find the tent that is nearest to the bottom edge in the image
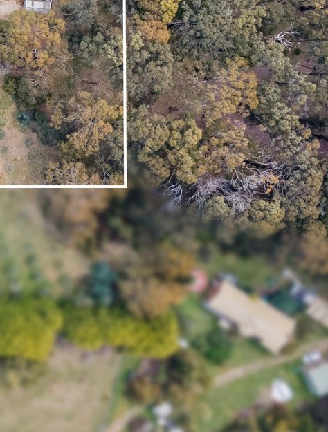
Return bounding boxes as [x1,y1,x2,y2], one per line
[271,380,291,402]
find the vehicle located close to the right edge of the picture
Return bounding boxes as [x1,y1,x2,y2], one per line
[300,350,320,363]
